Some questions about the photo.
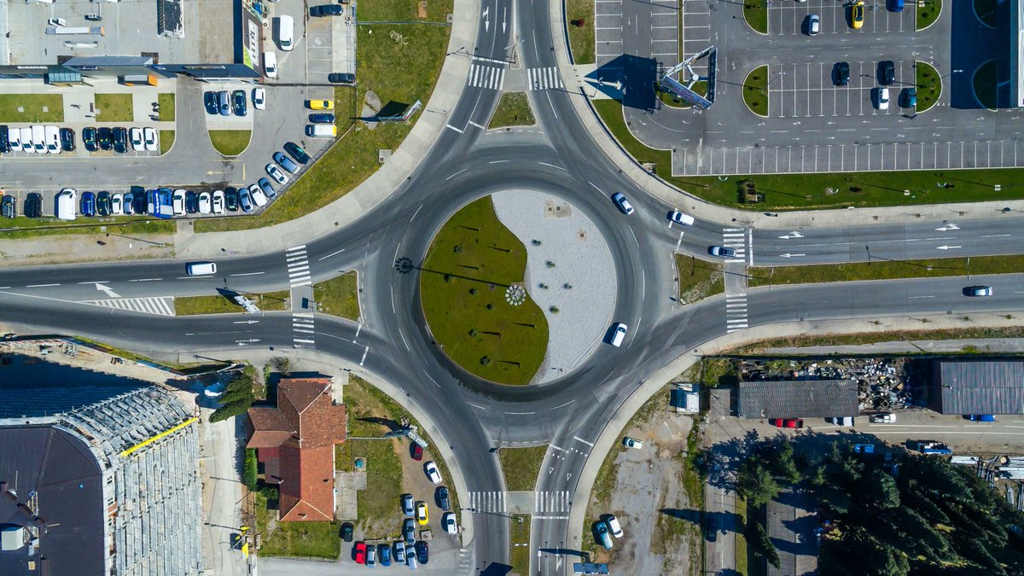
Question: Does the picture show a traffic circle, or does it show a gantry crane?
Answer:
traffic circle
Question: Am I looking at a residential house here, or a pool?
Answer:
residential house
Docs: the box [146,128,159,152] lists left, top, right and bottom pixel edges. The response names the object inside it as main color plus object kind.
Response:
white vehicle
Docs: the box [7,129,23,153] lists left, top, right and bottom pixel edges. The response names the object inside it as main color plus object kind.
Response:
white vehicle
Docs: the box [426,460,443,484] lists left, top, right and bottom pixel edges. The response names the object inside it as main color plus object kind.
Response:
white car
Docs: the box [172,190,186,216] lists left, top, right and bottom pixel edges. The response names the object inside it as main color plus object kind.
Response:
white car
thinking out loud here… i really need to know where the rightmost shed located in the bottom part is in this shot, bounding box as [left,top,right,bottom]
[923,357,1024,415]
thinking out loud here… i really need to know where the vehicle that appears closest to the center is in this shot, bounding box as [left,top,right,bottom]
[610,321,627,347]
